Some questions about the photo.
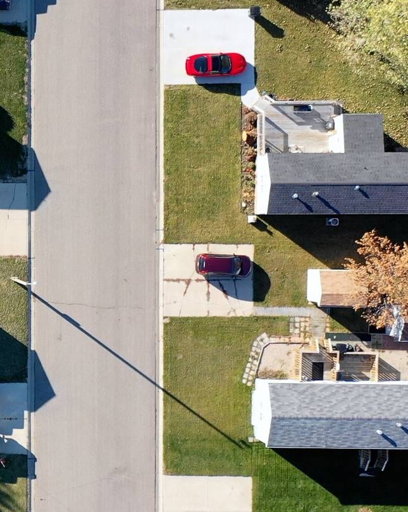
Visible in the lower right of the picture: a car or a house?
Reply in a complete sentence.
There is a house in the lower right of the picture.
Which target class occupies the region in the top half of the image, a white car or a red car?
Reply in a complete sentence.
What appears in the top half of the image is a red car.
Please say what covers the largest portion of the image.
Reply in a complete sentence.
What you mostly see from above here is paved ground.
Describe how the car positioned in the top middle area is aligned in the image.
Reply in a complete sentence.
Seen from above, the car positioned in the top middle area lies from left to right.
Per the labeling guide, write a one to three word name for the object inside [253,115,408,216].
house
